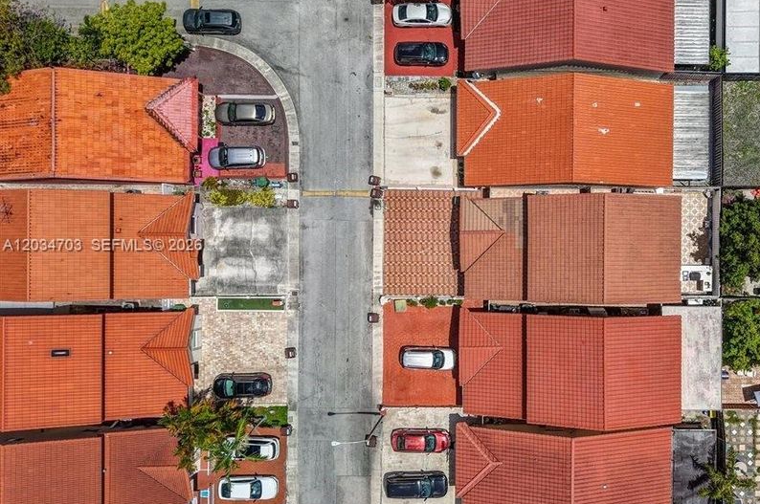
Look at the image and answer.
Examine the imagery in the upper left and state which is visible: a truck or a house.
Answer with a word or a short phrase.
house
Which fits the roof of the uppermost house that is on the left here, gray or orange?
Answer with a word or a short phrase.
orange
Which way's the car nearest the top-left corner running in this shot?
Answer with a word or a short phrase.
from side to side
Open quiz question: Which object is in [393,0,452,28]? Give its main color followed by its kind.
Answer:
white car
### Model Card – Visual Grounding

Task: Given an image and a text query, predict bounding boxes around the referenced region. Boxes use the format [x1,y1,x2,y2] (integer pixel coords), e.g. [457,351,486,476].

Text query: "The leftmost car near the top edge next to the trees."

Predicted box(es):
[184,5,244,36]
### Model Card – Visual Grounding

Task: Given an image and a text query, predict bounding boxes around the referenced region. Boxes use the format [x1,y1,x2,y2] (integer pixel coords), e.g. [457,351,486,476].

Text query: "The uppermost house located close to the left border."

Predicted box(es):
[0,66,205,184]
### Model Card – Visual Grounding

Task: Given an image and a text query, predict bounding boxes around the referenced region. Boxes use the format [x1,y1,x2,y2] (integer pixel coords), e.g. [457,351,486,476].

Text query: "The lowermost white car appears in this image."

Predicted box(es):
[218,473,280,503]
